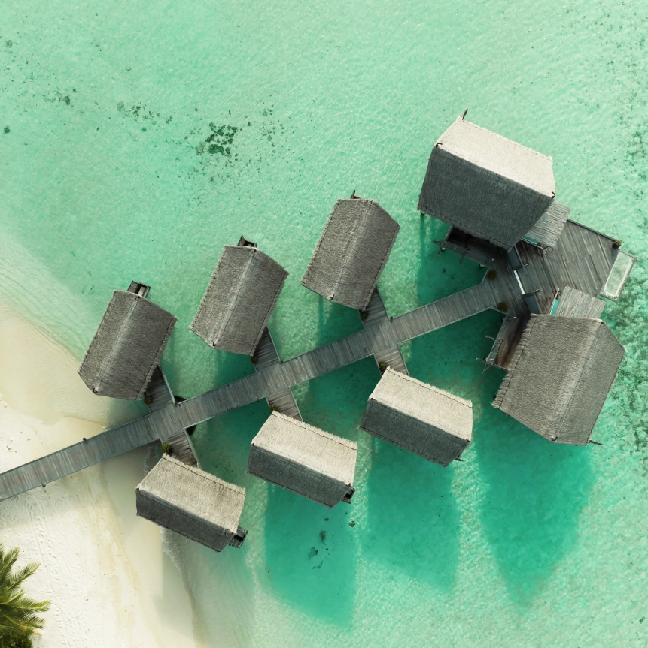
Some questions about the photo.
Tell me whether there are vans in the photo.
No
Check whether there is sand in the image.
Yes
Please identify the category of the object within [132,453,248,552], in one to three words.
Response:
building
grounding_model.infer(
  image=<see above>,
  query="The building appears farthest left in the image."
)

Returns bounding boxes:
[78,281,177,400]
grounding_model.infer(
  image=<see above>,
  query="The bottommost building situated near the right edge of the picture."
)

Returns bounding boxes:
[474,313,624,444]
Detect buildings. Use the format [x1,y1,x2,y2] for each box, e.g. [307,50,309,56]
[301,190,401,307]
[190,237,289,356]
[248,410,358,508]
[418,108,561,267]
[363,366,475,465]
[132,453,248,552]
[474,313,624,444]
[78,281,177,400]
